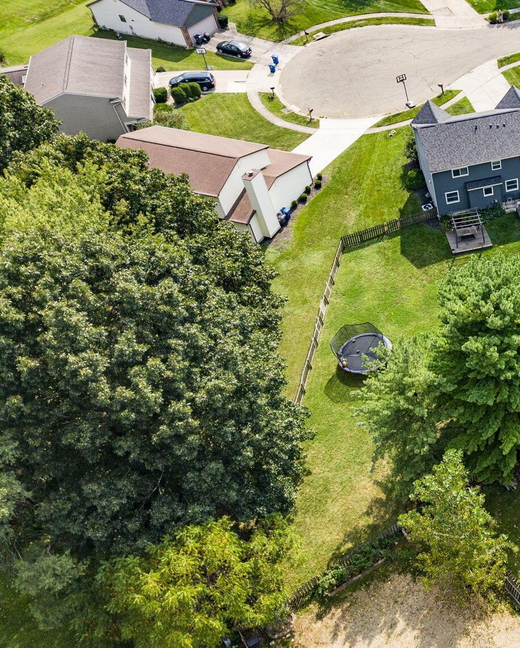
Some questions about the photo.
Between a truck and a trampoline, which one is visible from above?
trampoline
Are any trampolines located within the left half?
No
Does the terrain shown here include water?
No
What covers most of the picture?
trees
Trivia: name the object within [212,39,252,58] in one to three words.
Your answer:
car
